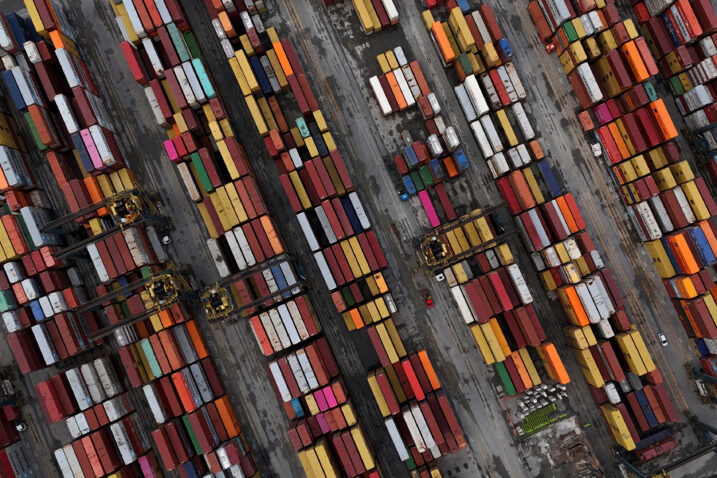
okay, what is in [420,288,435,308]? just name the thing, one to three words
vehicle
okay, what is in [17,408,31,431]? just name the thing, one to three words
vehicle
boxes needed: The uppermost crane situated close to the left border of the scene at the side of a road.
[36,185,177,265]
